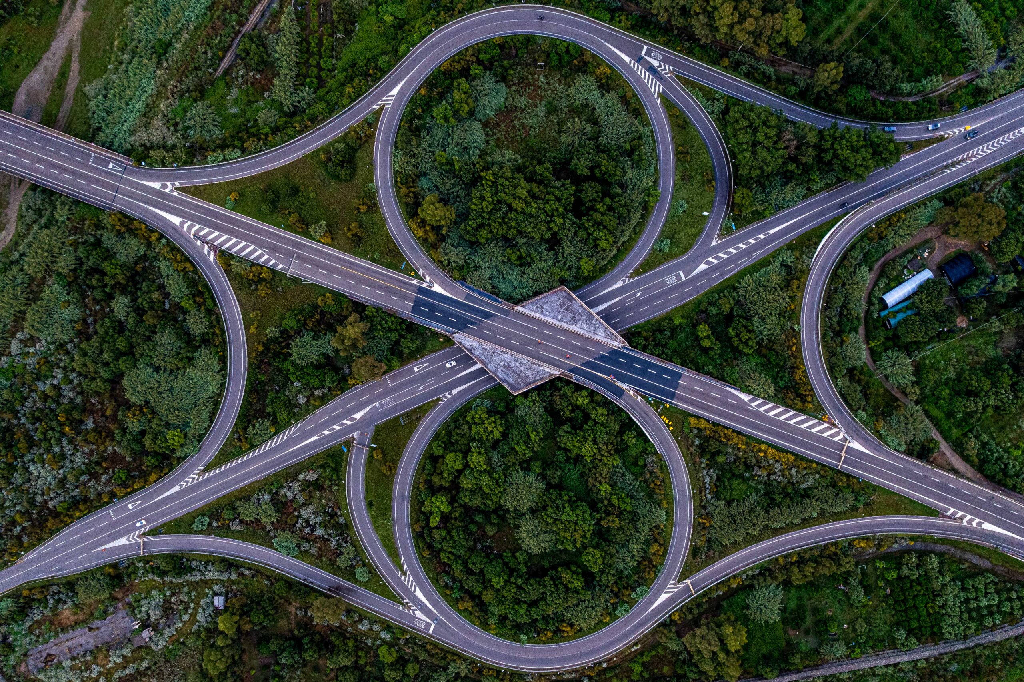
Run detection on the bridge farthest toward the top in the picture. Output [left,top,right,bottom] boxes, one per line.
[0,109,135,213]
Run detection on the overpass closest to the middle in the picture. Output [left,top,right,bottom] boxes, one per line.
[346,280,741,463]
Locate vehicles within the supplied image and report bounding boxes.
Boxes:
[929,122,941,129]
[840,202,850,209]
[885,126,898,132]
[445,360,457,368]
[433,616,441,625]
[967,130,980,138]
[135,520,145,527]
